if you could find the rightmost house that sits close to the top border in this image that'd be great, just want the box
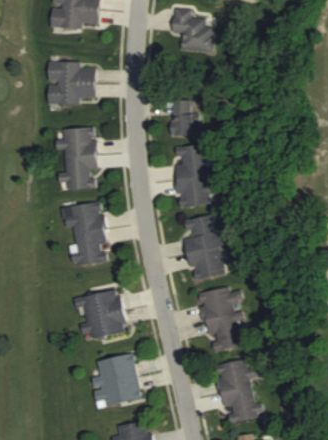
[170,9,216,54]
